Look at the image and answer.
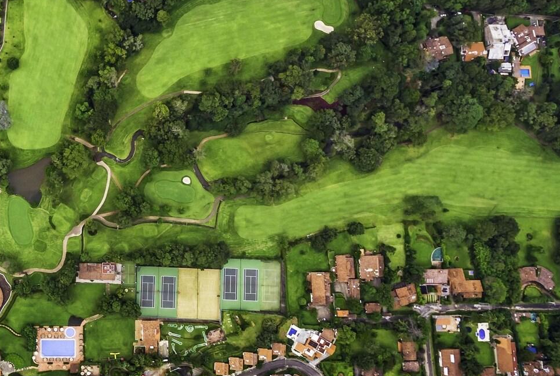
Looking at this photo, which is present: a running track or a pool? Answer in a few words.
pool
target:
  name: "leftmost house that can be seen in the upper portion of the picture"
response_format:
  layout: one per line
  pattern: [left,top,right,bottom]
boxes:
[423,36,454,60]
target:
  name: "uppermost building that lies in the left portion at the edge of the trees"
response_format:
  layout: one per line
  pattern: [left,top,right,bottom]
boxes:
[75,255,121,285]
